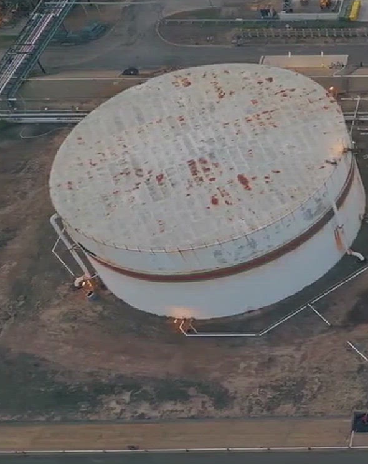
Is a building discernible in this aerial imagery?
No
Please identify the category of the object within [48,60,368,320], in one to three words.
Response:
storage tank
